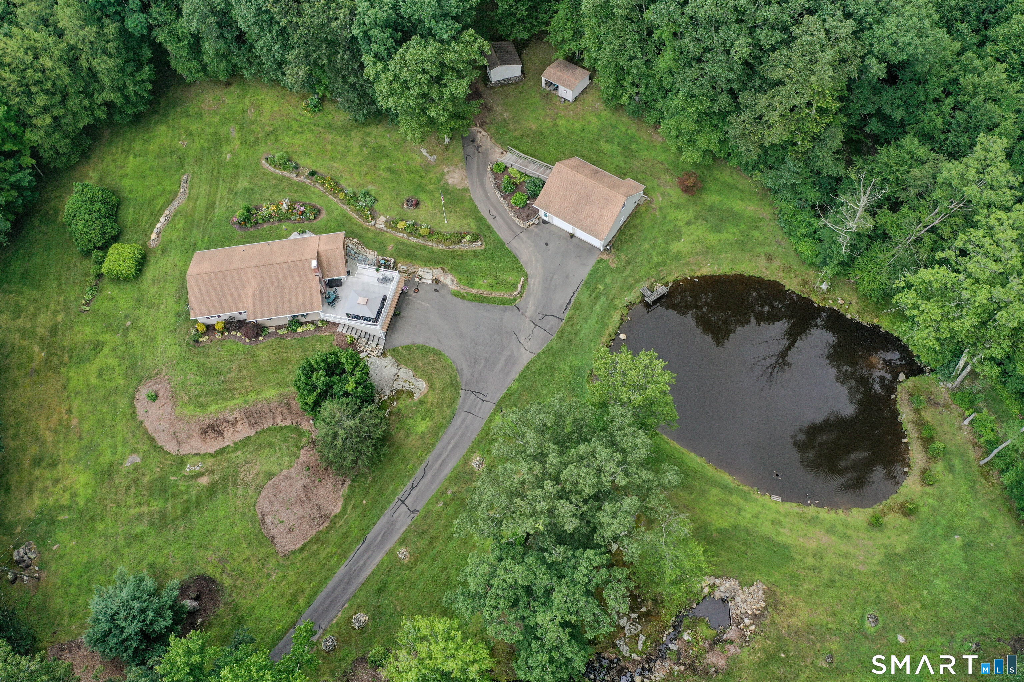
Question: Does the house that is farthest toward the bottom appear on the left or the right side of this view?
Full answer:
The house that is farthest toward the bottom appears in the left half of the scene.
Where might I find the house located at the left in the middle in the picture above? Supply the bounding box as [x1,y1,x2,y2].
[185,231,349,328]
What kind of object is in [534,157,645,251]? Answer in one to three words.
building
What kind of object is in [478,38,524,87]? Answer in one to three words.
shed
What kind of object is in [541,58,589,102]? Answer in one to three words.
shed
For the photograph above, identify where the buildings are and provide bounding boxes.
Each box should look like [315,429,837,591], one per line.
[478,38,524,87]
[541,58,589,102]
[534,157,645,251]
[185,231,349,328]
